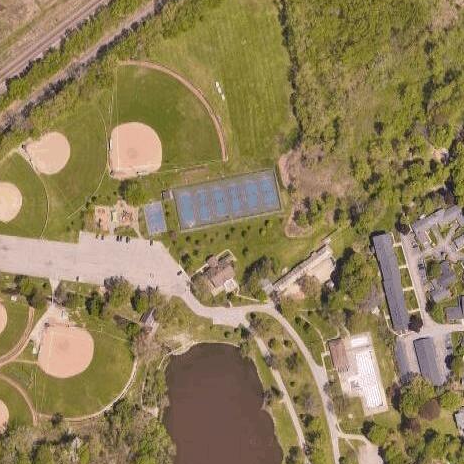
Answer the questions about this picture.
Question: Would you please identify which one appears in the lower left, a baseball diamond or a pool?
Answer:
baseball diamond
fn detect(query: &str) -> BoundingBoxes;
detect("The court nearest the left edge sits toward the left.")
[143,199,168,236]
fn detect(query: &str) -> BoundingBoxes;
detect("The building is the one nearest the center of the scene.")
[206,255,236,292]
